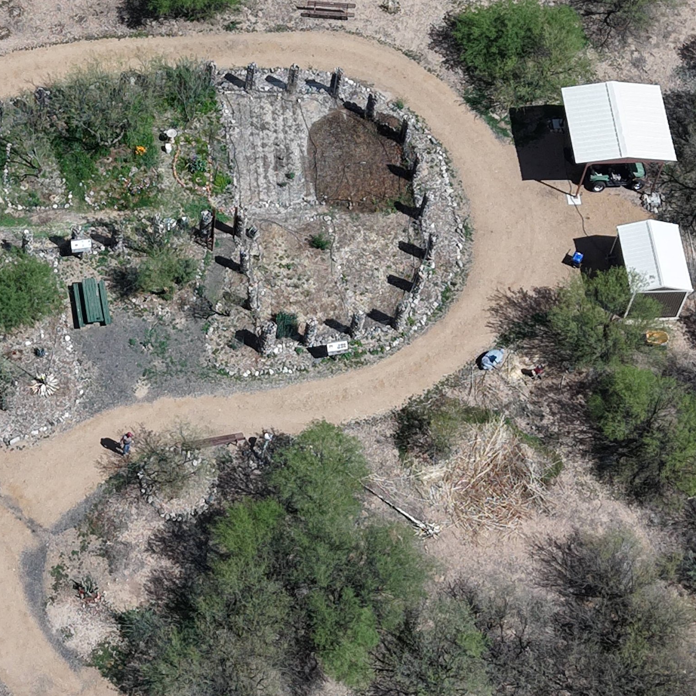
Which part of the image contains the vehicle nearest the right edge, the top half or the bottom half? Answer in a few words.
top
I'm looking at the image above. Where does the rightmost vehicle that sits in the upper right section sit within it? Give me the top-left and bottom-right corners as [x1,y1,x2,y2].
[587,160,649,194]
